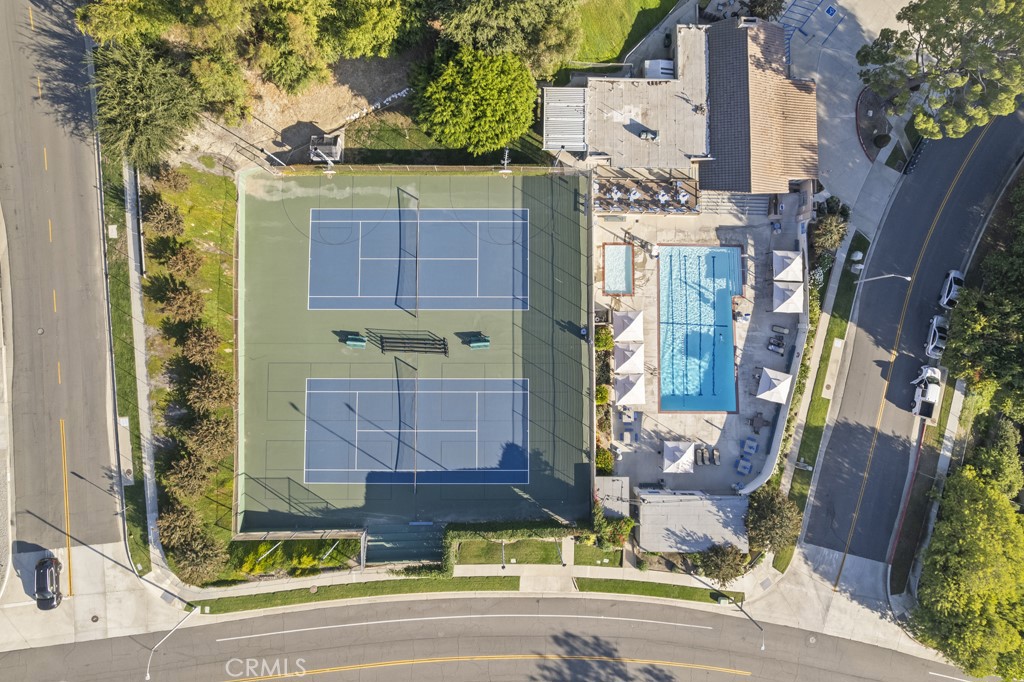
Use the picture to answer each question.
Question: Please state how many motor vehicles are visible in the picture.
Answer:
four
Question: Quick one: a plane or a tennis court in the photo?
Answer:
tennis court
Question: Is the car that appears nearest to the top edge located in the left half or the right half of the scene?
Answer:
right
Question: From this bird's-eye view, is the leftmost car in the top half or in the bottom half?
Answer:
bottom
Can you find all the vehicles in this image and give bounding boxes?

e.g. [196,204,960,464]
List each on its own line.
[921,314,950,359]
[35,558,64,608]
[934,267,965,312]
[910,365,943,421]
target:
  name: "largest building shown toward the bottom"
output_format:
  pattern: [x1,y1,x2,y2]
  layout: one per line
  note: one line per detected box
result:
[635,489,748,552]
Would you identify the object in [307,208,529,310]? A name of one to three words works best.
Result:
tennis court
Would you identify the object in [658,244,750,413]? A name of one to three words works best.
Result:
swimming pool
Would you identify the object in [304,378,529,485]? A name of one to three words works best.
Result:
tennis court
